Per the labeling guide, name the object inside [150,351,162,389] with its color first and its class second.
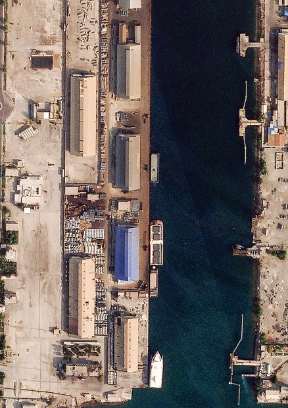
white boat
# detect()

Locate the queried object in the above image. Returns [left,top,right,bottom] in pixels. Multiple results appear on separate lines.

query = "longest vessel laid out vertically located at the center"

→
[150,219,163,266]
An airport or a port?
port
